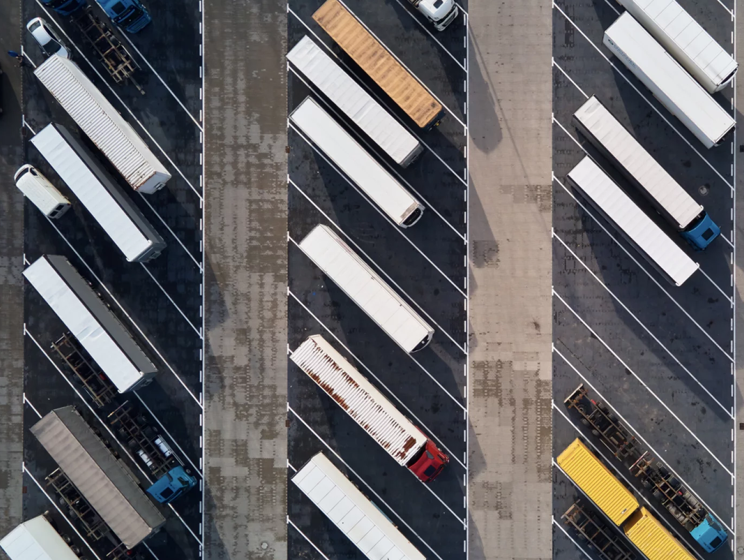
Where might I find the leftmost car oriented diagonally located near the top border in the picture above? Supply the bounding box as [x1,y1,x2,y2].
[27,17,72,61]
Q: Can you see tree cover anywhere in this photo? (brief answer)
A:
No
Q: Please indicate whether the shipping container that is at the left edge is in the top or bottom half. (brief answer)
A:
top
